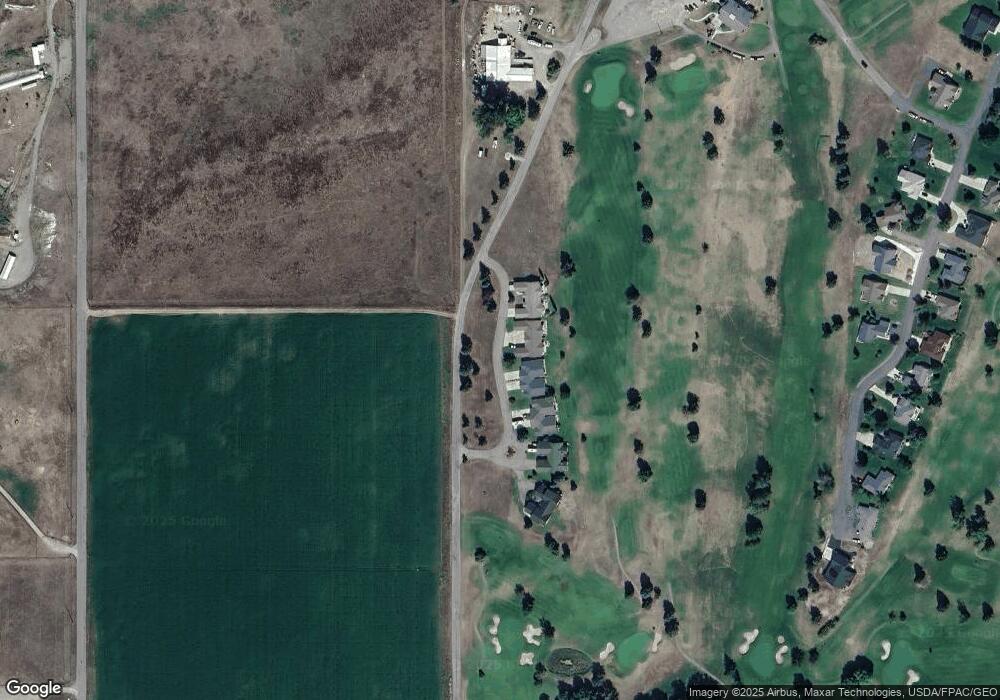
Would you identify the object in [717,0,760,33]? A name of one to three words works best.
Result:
building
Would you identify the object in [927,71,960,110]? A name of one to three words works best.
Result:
house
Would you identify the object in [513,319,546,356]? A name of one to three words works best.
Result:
house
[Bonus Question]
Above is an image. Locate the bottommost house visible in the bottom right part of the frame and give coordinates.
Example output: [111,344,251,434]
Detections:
[821,545,858,590]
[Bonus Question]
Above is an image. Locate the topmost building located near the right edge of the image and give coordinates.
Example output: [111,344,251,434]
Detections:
[962,6,1000,41]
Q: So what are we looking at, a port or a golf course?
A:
golf course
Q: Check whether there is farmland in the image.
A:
Yes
